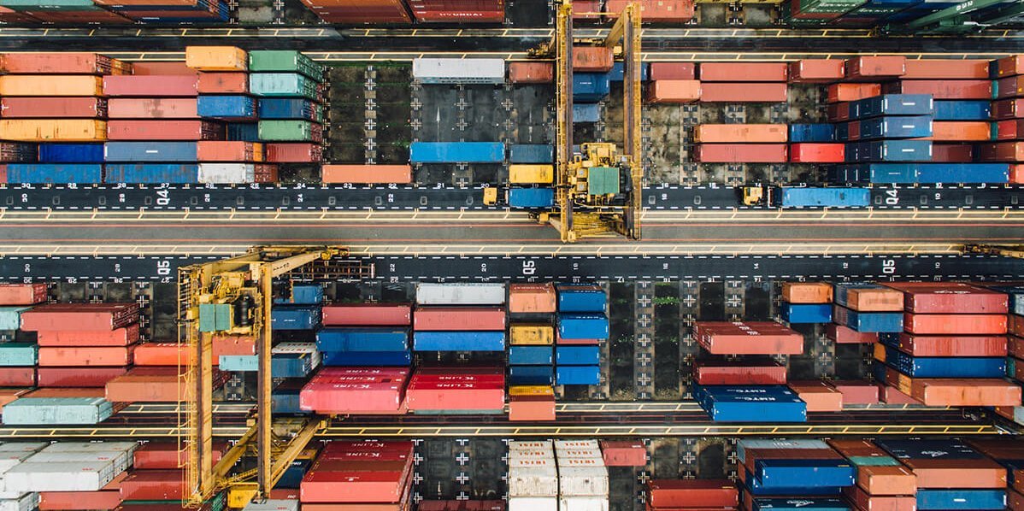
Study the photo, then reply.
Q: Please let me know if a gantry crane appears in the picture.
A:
Yes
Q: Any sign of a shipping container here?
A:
Yes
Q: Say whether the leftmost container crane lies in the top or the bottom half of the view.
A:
bottom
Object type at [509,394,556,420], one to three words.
shipping container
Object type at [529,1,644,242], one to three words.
container crane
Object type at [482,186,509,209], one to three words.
truck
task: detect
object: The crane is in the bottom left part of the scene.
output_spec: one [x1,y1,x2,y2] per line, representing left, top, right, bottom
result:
[175,241,349,508]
